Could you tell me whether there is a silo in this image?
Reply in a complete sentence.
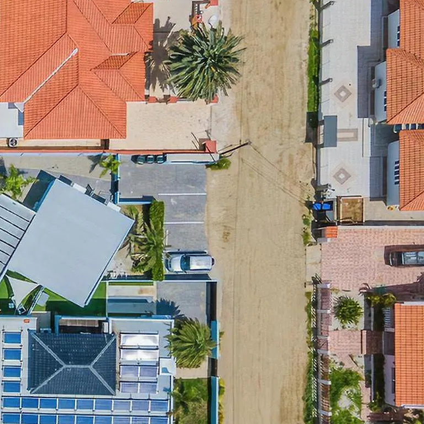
No, there's no silo here.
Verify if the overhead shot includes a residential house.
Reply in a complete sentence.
Yes, I can see a residential house in this picture.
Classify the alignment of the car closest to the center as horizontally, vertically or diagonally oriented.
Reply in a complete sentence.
The car closest to the center is laid out horizontally.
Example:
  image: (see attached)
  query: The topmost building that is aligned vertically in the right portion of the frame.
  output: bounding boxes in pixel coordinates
[373,0,424,126]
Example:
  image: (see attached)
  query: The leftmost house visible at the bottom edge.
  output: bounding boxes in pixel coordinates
[0,316,176,424]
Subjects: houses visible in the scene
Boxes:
[386,129,424,211]
[6,178,135,311]
[0,0,154,140]
[0,316,176,424]
[381,301,424,409]
[373,0,424,126]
